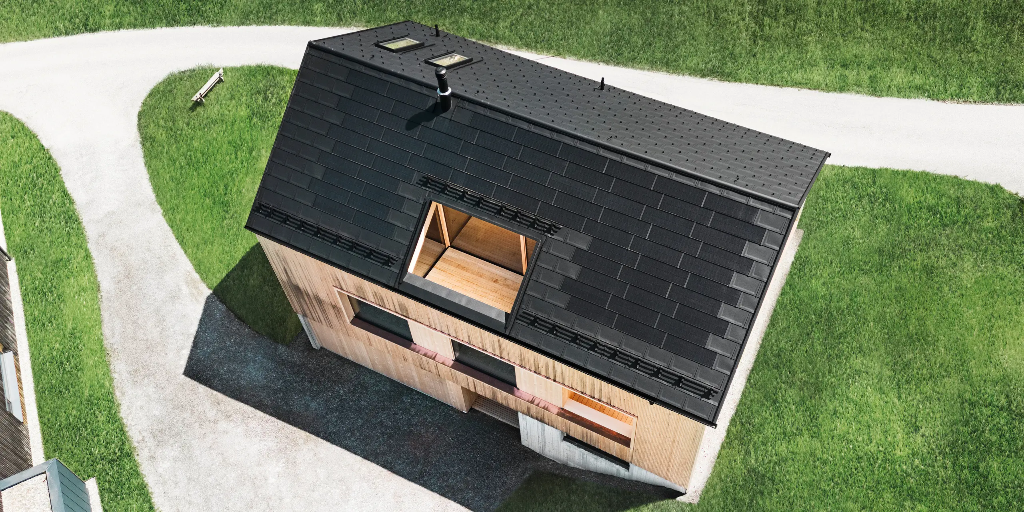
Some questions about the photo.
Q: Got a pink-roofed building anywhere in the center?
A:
No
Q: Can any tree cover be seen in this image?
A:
No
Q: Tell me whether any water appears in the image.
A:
No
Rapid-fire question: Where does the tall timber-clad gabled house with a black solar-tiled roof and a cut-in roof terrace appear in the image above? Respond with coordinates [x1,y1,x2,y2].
[242,18,830,492]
